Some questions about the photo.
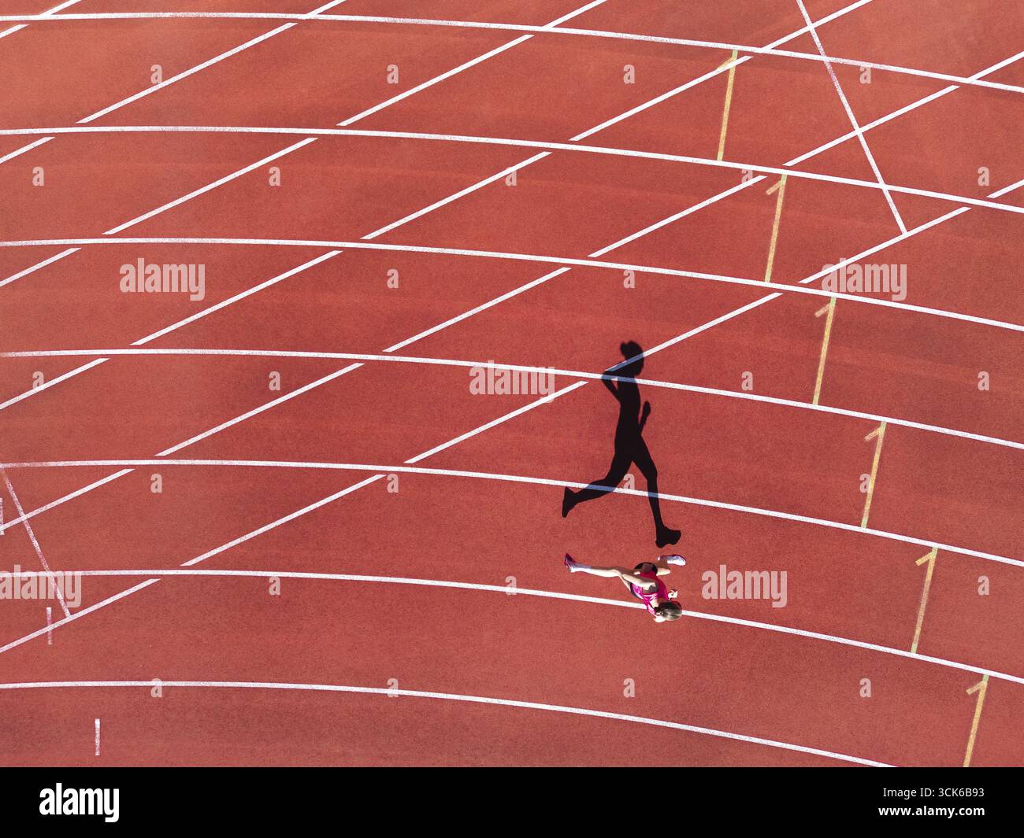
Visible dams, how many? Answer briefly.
none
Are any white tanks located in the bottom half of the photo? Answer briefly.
No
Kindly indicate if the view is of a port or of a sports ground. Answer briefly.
sports ground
